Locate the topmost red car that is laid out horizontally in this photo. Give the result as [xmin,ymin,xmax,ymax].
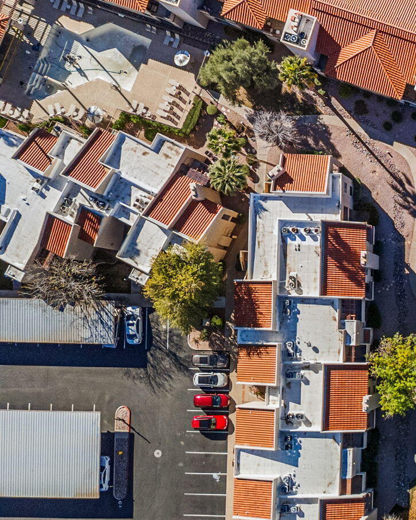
[190,393,229,410]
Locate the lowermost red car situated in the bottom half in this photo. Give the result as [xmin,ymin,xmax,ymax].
[189,415,227,432]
